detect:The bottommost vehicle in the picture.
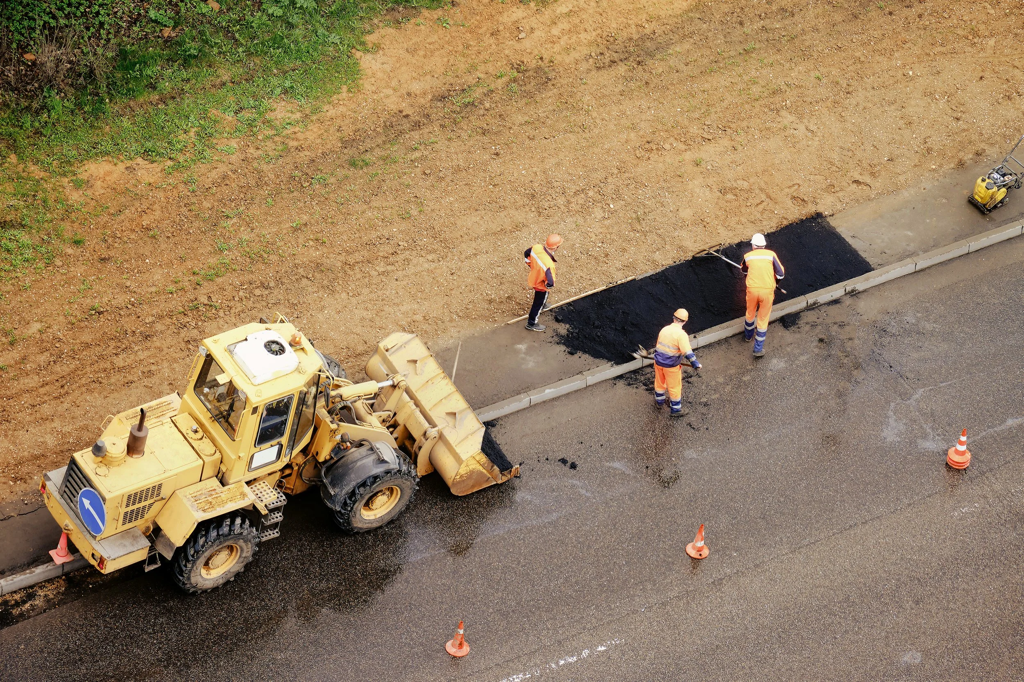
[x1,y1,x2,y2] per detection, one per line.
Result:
[39,309,524,594]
